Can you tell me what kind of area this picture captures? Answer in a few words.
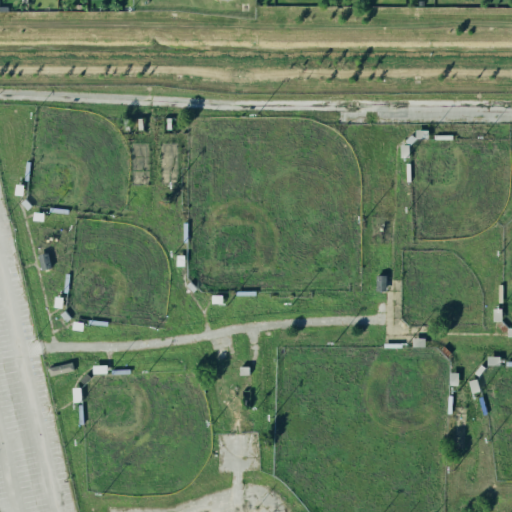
sports ground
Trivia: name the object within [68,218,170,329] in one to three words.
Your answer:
baseball field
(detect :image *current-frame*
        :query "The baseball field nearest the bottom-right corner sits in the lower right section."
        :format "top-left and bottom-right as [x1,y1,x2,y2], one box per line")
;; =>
[482,367,512,481]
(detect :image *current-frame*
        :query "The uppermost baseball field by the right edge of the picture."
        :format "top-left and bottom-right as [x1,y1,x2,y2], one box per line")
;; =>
[412,139,511,240]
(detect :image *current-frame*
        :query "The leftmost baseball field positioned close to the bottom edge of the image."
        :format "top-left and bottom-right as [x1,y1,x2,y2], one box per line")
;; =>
[84,373,212,496]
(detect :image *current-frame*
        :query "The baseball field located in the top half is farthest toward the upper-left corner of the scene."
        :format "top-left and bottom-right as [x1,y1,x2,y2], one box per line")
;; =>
[28,104,130,213]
